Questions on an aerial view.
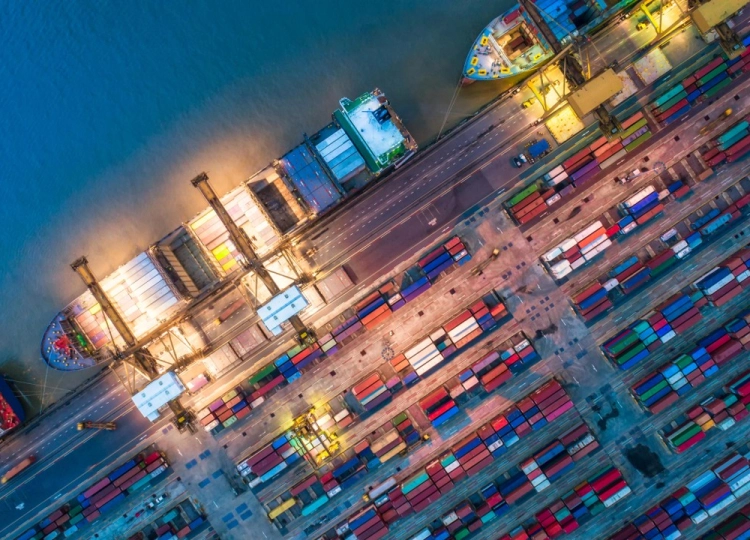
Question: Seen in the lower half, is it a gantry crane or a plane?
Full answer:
It is a gantry crane that can be seen in the lower half.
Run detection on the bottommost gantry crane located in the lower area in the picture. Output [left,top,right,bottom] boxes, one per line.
[283,403,336,473]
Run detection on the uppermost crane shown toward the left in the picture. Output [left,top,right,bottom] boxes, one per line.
[192,175,317,342]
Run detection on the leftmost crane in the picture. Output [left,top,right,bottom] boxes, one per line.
[69,259,210,427]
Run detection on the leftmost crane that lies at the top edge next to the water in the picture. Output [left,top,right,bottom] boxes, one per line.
[508,0,625,133]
